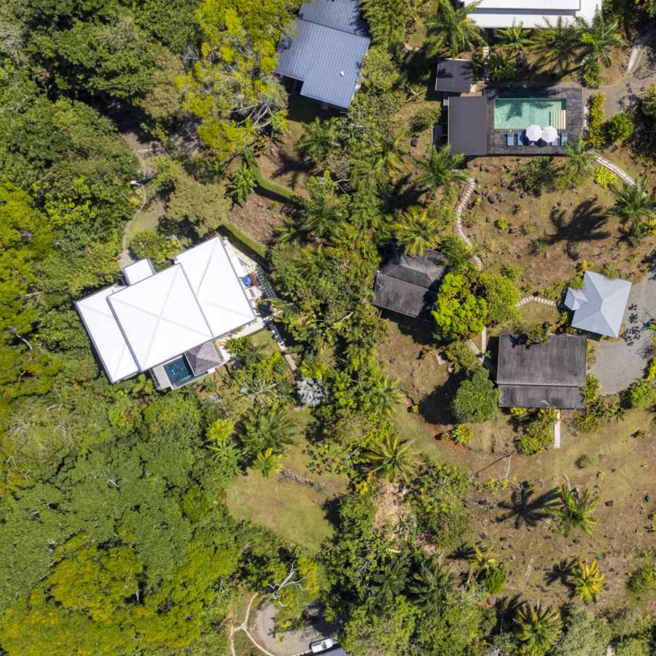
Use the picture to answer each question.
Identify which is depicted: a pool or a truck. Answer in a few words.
pool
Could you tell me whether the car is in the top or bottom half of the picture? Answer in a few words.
bottom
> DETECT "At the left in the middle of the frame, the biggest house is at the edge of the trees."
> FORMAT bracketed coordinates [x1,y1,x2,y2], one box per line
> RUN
[75,236,256,384]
